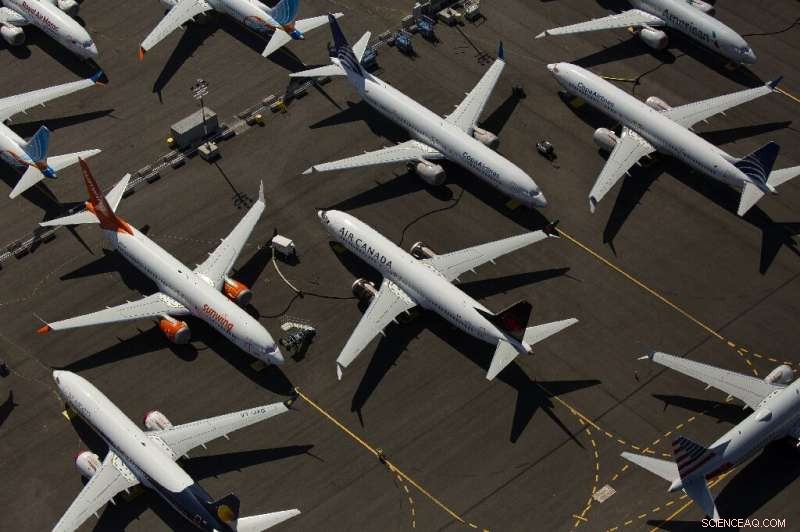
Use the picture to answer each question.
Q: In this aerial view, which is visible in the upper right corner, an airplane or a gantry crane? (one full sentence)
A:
What appears in the upper right corner is an airplane.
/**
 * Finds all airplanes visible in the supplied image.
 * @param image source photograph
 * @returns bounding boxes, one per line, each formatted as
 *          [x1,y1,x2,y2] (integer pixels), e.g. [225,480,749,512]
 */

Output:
[0,67,107,199]
[0,0,100,61]
[35,157,285,363]
[50,370,302,532]
[621,342,800,523]
[534,0,758,66]
[319,209,578,380]
[291,13,548,209]
[546,62,800,216]
[139,0,343,61]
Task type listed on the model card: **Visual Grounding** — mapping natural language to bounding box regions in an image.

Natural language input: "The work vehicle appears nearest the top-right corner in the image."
[533,137,553,157]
